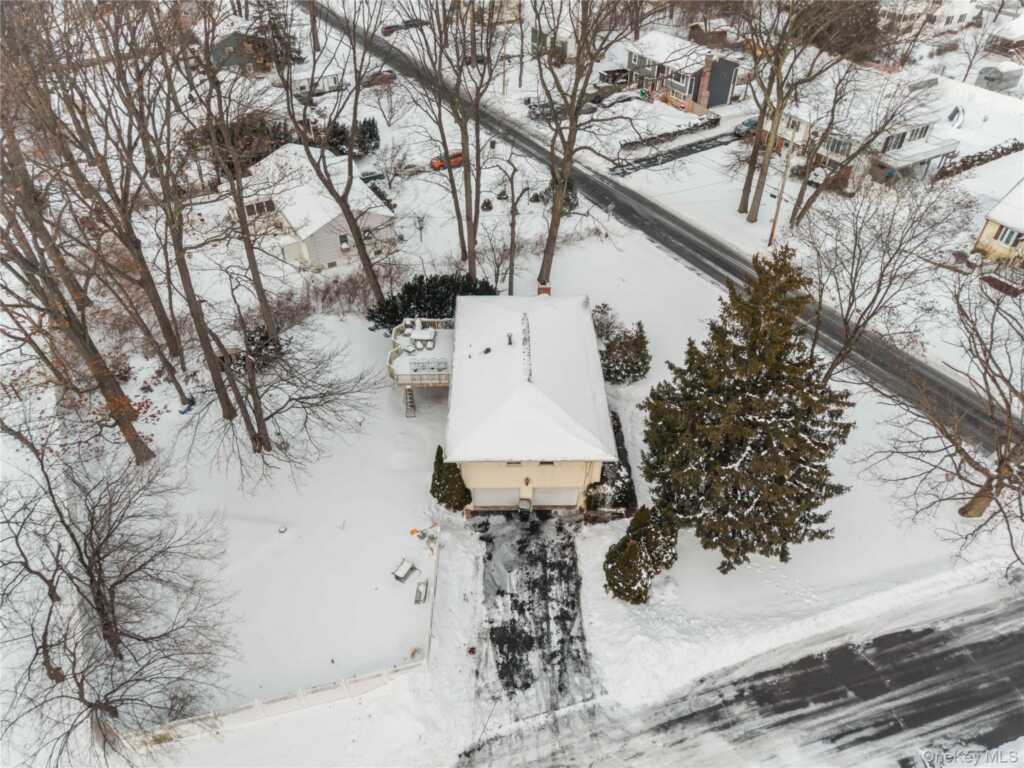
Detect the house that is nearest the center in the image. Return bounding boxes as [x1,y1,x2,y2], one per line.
[444,278,619,521]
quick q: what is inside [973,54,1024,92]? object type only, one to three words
shed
